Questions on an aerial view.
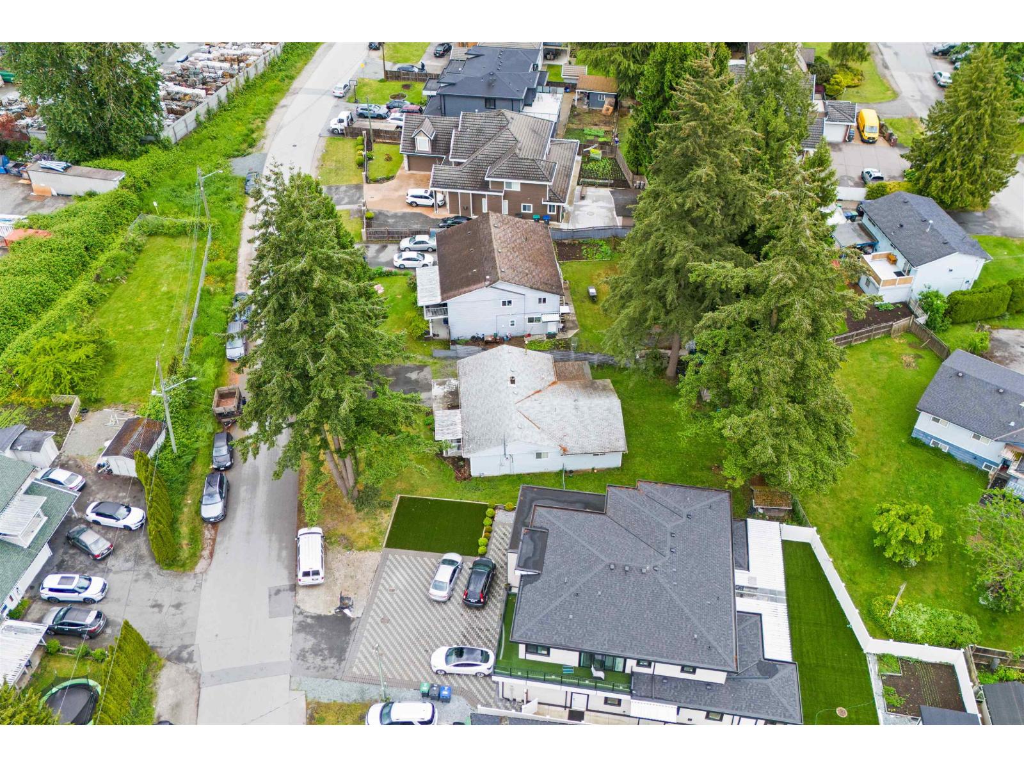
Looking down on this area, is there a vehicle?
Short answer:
Yes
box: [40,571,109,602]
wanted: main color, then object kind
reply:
white car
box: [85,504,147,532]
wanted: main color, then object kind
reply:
white car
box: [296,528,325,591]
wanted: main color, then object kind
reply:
white van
